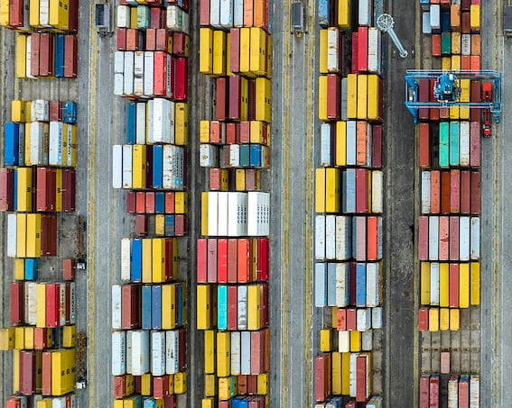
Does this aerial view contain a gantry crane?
Yes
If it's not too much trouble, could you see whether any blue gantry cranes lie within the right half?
Yes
